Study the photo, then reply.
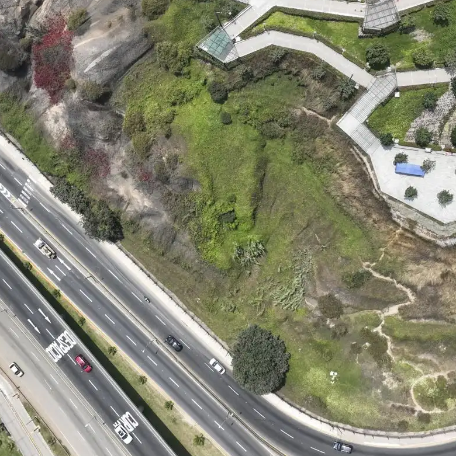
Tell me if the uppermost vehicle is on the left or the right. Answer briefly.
left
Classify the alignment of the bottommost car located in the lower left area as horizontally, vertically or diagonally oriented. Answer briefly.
diagonally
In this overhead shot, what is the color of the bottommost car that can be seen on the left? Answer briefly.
white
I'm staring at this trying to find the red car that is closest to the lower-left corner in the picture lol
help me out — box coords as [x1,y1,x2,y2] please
[74,353,92,372]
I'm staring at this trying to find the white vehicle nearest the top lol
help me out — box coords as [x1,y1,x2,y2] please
[34,238,56,259]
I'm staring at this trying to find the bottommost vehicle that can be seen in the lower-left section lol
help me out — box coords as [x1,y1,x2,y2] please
[114,421,135,443]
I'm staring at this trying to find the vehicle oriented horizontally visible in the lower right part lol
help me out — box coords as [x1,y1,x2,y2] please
[330,441,355,453]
